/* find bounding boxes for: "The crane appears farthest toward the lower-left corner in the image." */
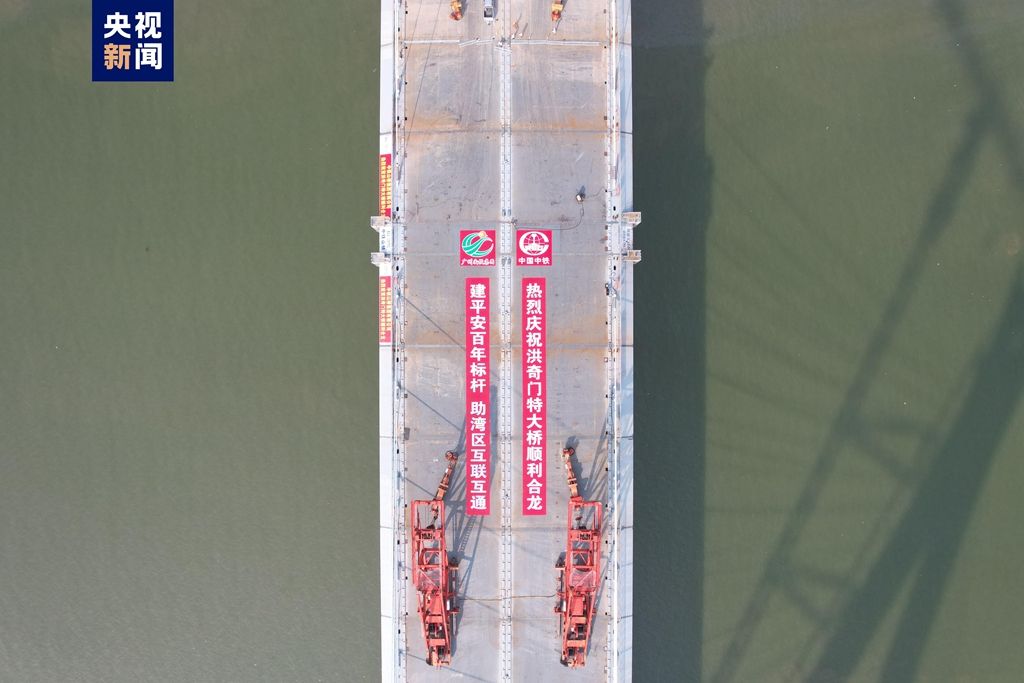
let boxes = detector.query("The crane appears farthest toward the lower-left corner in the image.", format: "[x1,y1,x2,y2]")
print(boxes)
[410,450,461,668]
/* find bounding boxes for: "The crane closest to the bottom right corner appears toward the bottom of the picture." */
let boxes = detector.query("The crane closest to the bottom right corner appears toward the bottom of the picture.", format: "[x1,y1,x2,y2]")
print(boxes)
[552,449,603,668]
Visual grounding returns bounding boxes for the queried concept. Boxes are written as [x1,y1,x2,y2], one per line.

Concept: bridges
[381,0,633,683]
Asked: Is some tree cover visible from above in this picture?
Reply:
No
